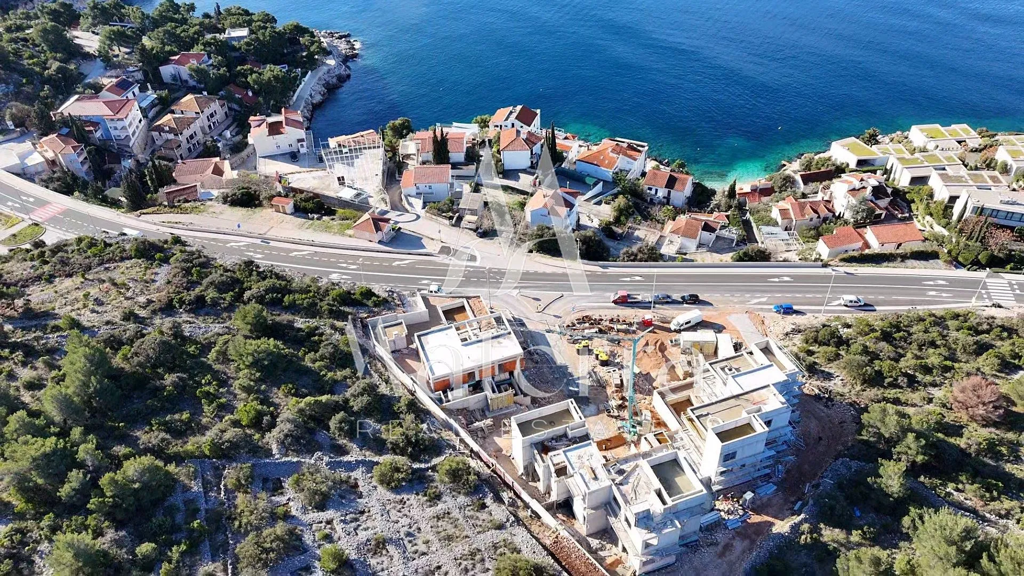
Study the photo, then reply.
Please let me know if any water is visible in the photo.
Yes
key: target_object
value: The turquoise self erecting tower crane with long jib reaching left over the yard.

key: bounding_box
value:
[520,325,663,440]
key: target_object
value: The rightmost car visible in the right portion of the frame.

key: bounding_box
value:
[839,294,867,307]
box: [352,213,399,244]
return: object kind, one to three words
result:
house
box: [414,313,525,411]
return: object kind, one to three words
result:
building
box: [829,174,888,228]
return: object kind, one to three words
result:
house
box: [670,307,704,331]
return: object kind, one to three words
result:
vehicle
